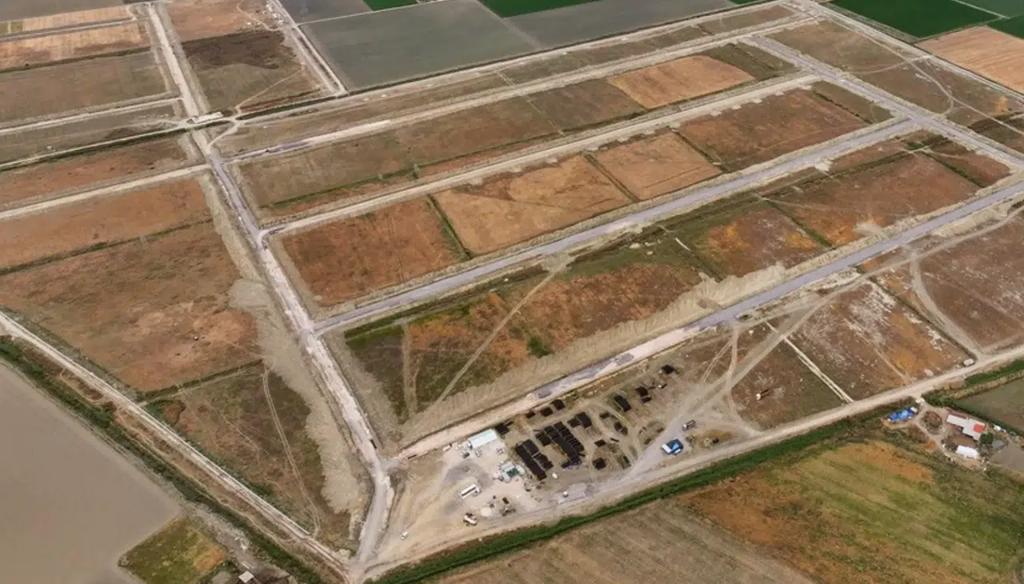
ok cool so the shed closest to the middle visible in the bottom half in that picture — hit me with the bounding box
[468,429,498,451]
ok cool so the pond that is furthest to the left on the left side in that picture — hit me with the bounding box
[0,360,181,584]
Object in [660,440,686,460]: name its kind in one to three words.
building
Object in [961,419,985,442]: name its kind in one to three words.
house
